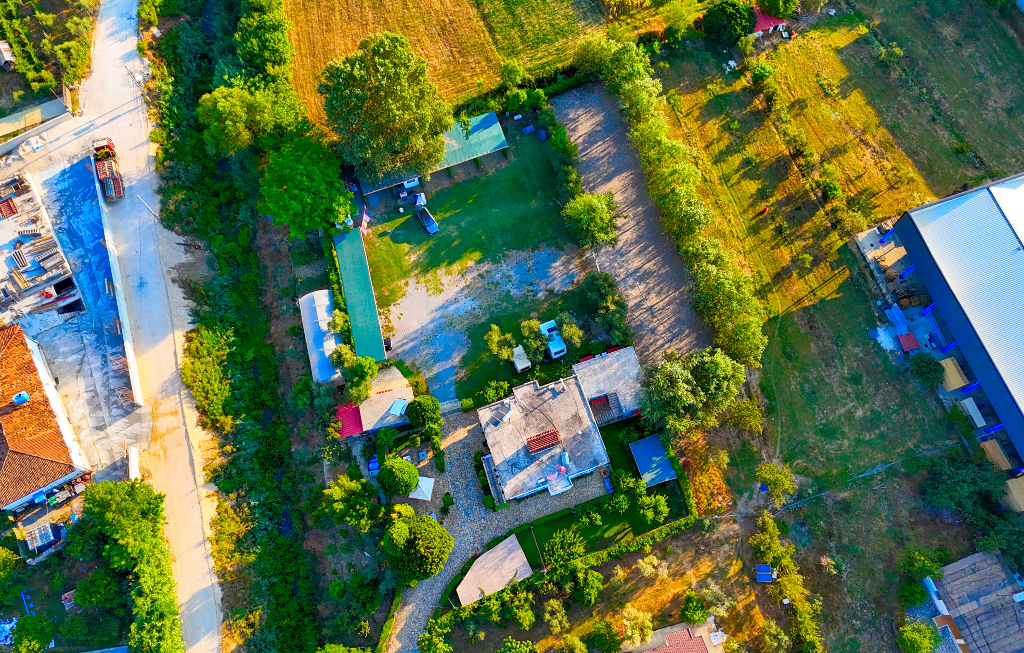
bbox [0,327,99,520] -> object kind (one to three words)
house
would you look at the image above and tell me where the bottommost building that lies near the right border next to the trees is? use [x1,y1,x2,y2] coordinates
[925,553,1024,653]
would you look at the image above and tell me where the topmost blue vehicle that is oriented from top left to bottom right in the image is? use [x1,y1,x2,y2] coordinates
[415,205,440,237]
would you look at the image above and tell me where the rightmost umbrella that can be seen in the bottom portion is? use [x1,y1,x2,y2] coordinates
[408,477,434,500]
